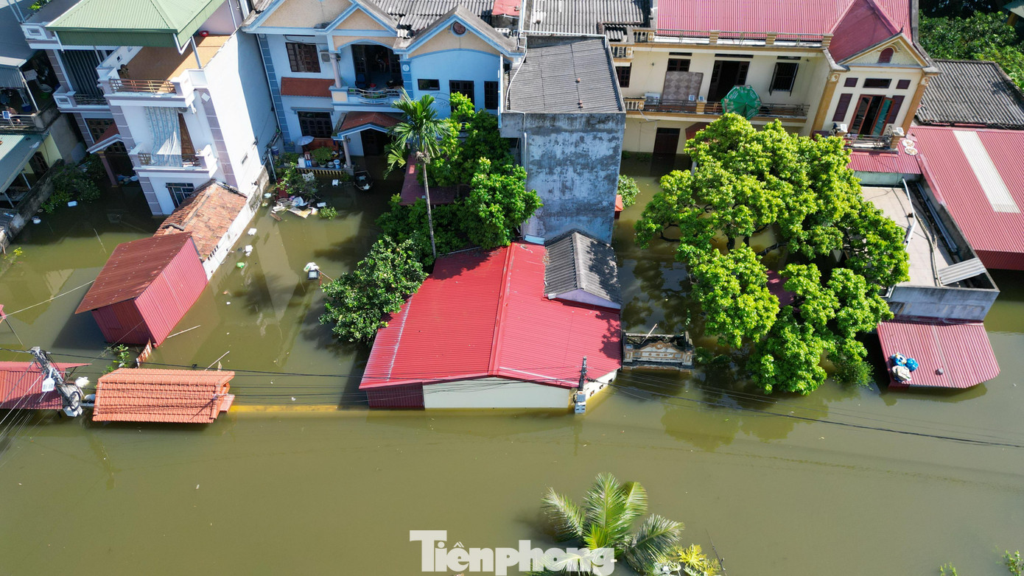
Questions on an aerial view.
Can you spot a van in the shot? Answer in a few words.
No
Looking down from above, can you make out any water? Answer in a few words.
Yes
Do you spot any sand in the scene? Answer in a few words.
No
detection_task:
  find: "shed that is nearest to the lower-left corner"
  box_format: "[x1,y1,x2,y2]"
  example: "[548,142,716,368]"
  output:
[76,232,208,346]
